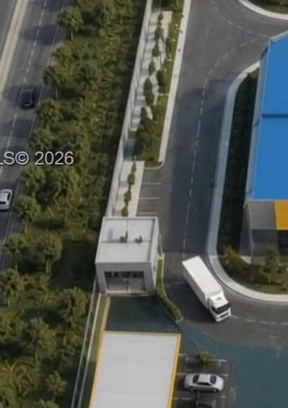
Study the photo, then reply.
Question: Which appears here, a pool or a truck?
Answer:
truck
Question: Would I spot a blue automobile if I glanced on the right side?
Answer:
No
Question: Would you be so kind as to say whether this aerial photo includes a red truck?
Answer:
No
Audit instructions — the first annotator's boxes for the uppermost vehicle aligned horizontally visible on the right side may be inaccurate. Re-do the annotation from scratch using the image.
[183,375,223,393]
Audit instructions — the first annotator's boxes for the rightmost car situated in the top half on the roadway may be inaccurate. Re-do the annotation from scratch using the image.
[18,89,36,111]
